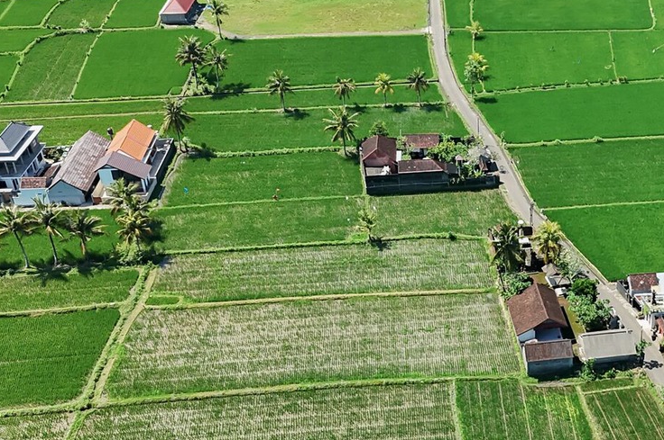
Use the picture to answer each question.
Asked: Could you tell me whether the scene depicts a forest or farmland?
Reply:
farmland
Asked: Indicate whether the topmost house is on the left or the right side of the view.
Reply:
left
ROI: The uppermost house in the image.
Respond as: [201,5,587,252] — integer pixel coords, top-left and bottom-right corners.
[161,0,201,24]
